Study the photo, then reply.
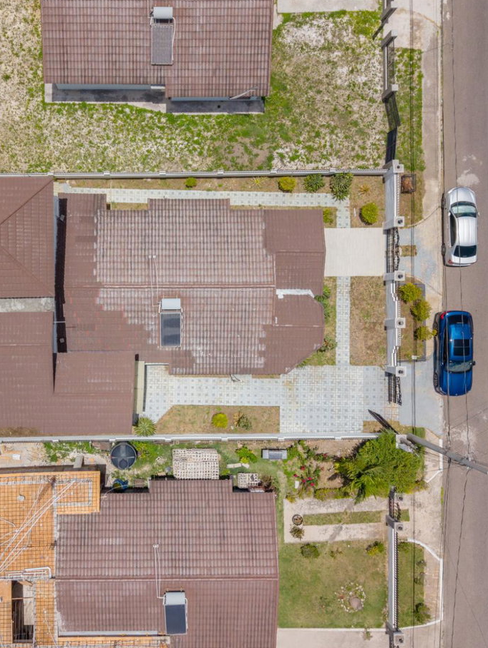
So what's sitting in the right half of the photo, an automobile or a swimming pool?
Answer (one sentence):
What appears in the right half of the photo is an automobile.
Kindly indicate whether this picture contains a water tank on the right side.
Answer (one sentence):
No, there is no water tank on the right side.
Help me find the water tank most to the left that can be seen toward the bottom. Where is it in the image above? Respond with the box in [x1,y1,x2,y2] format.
[112,439,136,466]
